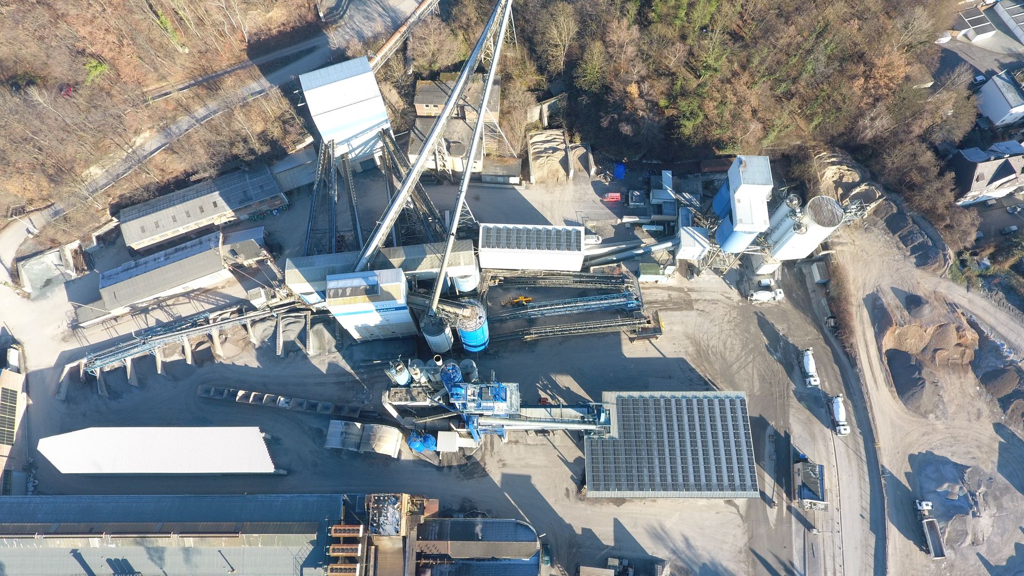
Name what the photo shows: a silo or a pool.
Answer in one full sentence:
Looking from above, you can make out a silo.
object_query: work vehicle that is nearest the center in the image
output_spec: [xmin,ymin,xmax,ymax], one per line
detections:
[497,294,528,309]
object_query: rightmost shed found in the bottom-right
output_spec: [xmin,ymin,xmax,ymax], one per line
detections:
[794,461,831,509]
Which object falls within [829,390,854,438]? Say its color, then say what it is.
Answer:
white truck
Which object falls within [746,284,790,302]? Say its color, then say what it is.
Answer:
white vehicle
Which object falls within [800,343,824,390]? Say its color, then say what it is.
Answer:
white truck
